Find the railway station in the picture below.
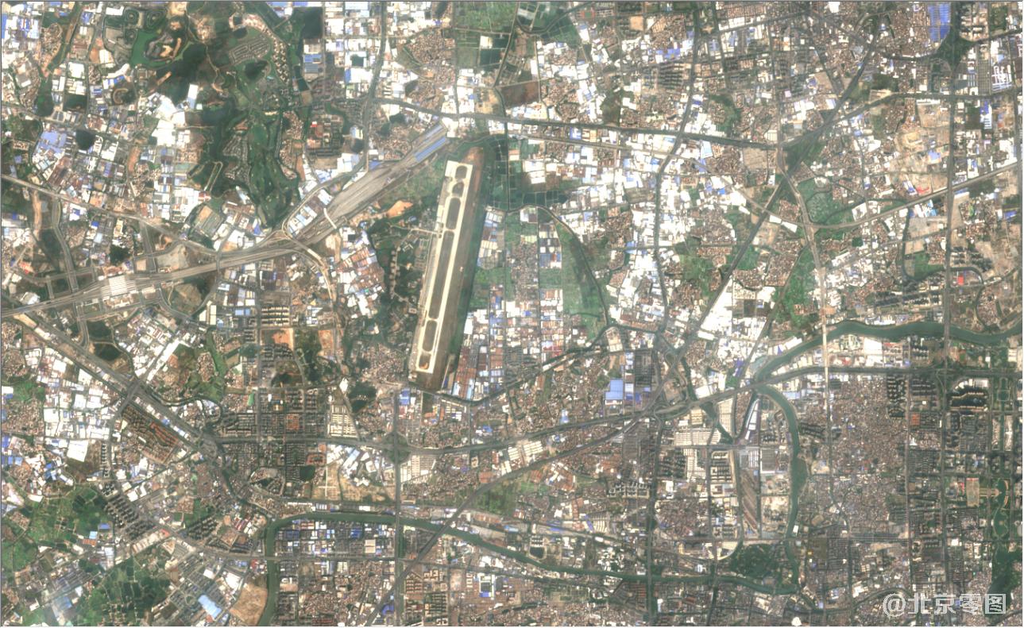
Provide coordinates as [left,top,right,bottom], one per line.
[99,266,156,306]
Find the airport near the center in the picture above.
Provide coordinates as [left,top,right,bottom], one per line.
[409,147,483,387]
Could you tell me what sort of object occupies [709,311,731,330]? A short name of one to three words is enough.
shed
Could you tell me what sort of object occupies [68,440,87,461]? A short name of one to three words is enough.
shed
